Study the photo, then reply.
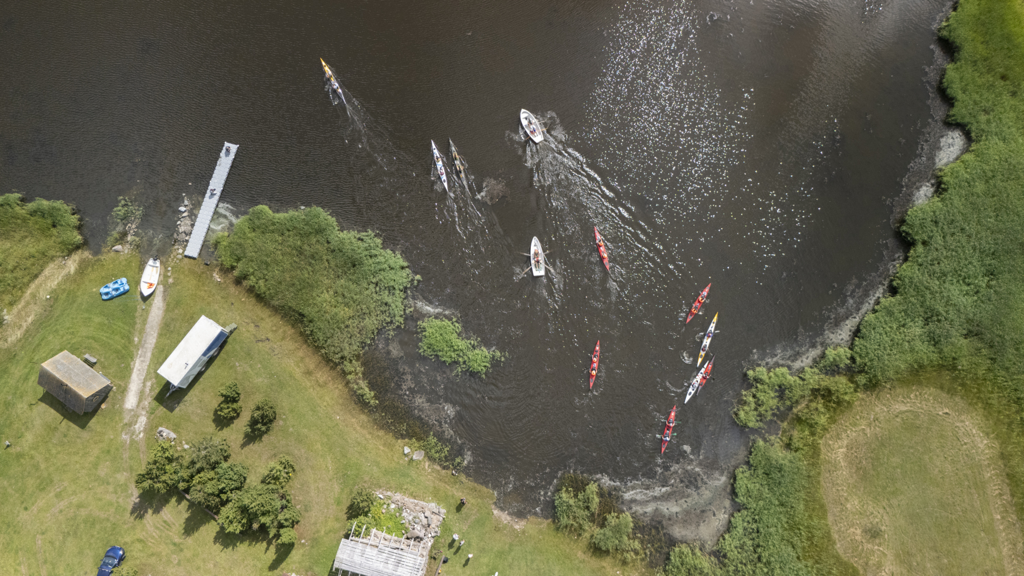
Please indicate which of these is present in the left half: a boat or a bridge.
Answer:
boat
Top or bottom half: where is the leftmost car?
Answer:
bottom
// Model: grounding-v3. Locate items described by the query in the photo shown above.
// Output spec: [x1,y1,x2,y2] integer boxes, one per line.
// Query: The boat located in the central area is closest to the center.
[530,236,544,277]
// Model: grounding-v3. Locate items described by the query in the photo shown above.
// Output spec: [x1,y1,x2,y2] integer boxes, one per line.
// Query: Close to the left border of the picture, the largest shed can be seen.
[38,350,112,415]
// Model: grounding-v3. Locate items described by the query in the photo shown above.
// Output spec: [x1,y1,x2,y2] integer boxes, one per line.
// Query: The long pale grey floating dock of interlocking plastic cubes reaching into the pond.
[185,141,239,260]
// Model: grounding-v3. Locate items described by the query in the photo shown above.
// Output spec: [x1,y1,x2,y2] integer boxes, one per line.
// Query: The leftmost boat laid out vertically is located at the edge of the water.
[144,256,162,296]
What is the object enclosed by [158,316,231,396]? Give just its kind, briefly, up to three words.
trailer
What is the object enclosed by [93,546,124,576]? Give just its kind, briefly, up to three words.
car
